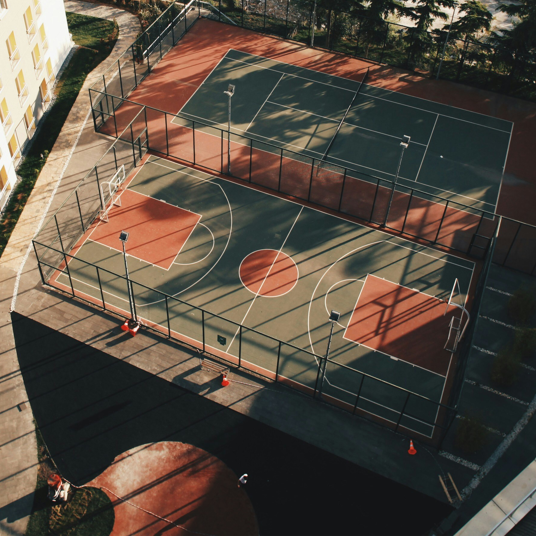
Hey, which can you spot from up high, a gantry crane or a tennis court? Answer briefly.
tennis court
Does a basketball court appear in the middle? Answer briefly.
Yes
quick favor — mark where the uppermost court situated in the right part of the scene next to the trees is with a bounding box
[173,50,512,219]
